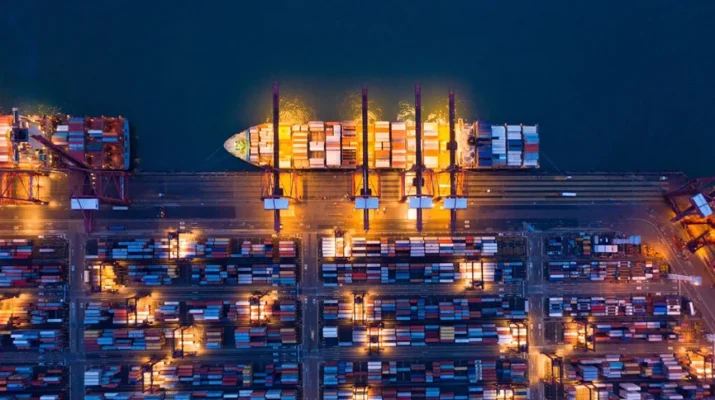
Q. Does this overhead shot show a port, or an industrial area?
port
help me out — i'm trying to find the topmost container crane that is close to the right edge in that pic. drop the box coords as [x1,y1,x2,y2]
[654,174,715,223]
